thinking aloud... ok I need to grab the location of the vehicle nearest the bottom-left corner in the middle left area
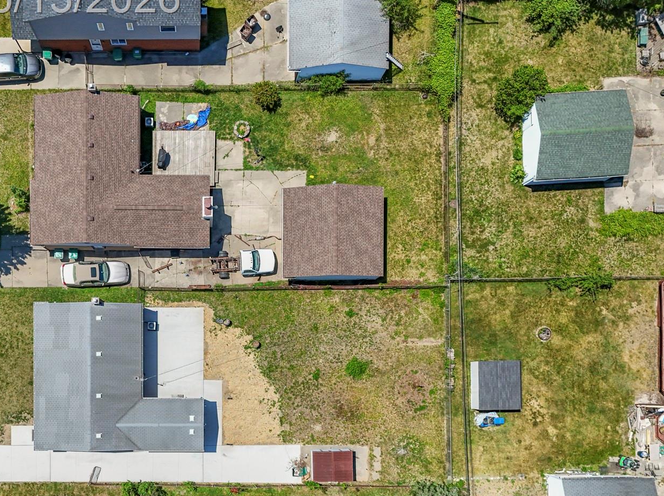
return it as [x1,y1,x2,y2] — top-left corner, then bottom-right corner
[62,258,131,289]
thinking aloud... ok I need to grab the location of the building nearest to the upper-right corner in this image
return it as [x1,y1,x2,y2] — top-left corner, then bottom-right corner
[519,89,635,186]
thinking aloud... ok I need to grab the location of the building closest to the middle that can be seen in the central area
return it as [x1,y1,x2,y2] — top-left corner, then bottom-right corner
[282,180,385,283]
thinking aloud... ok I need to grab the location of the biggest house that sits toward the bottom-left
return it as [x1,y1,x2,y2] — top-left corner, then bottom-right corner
[33,297,205,452]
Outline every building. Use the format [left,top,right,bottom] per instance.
[519,89,635,186]
[29,84,213,250]
[288,0,390,78]
[33,297,205,452]
[311,450,353,481]
[10,0,211,55]
[282,180,385,283]
[470,361,522,410]
[546,474,659,496]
